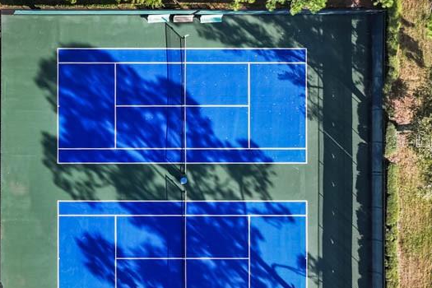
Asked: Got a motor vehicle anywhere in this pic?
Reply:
No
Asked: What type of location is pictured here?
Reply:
sports ground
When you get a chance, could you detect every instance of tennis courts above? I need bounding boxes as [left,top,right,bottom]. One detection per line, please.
[0,17,372,183]
[2,183,372,288]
